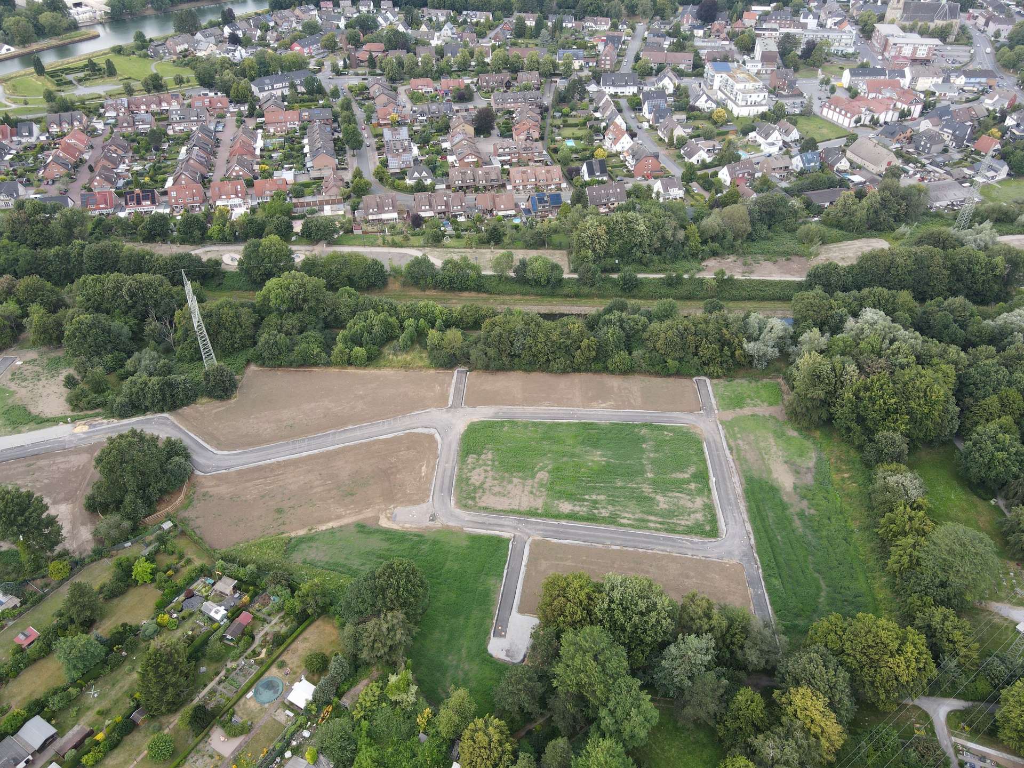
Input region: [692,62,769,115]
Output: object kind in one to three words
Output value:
building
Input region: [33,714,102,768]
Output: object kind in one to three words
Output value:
shed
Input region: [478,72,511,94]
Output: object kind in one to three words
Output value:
house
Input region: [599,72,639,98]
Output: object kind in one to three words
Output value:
house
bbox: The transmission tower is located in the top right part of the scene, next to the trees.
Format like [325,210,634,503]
[953,142,1005,224]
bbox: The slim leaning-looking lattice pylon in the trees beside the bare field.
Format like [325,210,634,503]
[182,272,221,372]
